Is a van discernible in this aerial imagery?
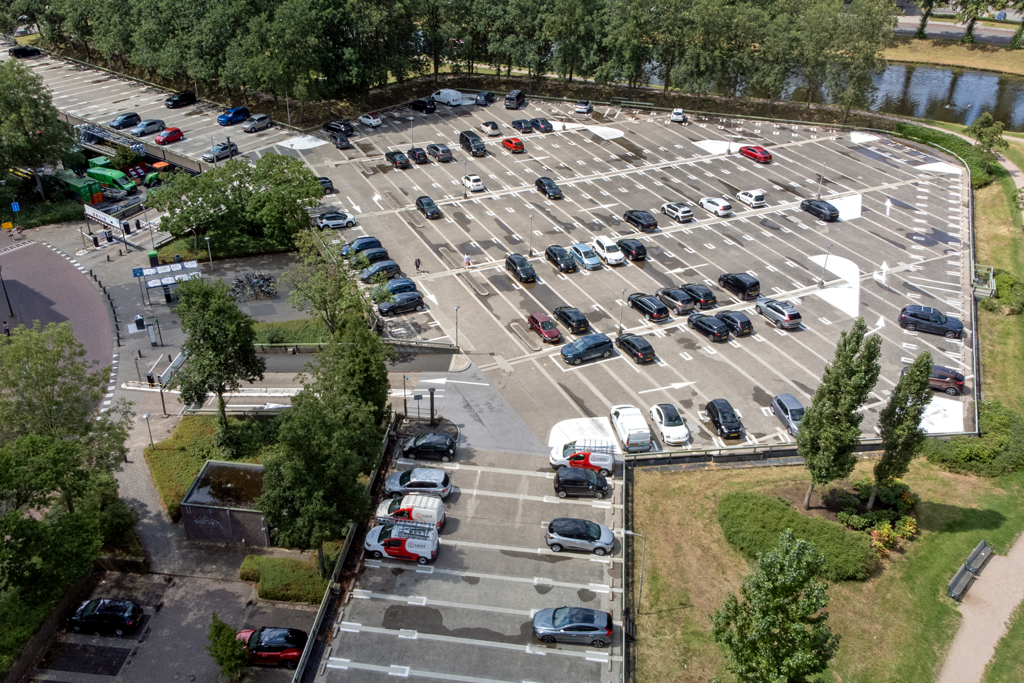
Yes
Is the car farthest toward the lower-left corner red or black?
black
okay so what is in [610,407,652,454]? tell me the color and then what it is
white van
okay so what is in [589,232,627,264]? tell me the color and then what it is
white car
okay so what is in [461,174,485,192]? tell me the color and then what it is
white car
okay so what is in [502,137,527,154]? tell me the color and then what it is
red car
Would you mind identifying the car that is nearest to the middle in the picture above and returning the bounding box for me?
[526,311,563,344]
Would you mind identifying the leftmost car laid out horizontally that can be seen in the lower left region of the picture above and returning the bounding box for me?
[59,594,150,635]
